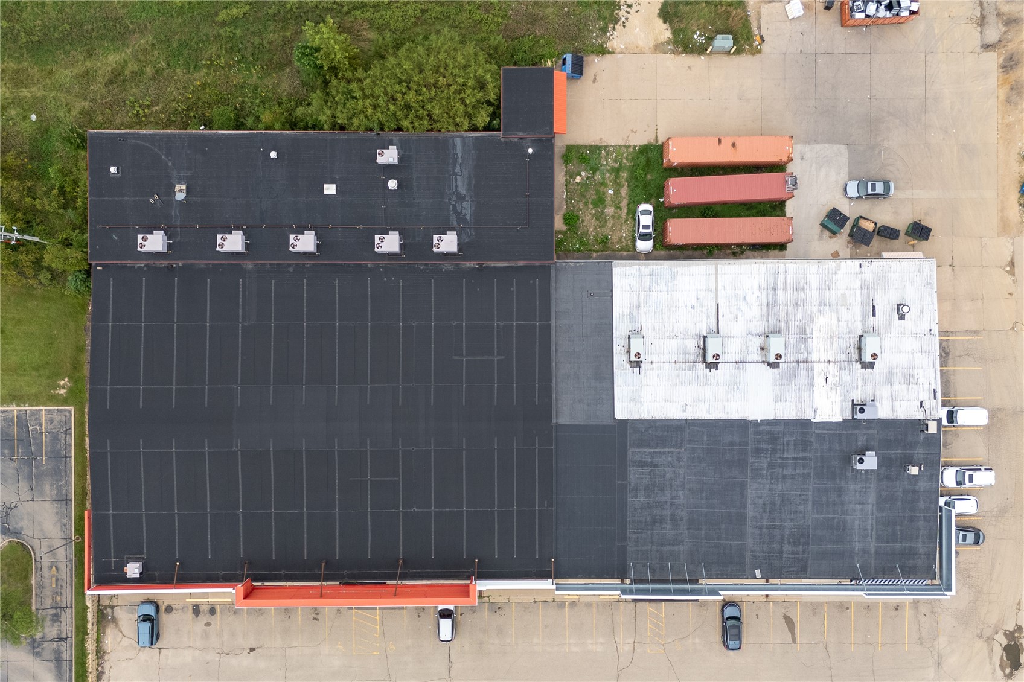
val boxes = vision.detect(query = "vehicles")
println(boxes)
[955,525,986,548]
[941,406,991,428]
[436,606,457,645]
[135,599,163,649]
[940,465,997,489]
[843,177,894,201]
[634,204,656,253]
[720,601,744,653]
[940,494,981,514]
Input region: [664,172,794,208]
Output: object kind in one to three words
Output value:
shipping container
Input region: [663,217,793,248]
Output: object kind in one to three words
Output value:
shipping container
